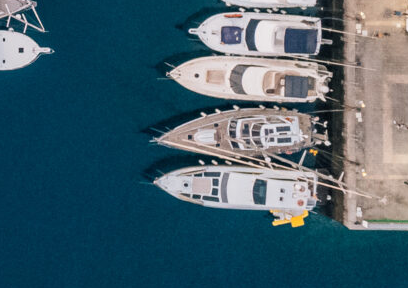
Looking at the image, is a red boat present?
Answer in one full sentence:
No, the frame has no red boat in it.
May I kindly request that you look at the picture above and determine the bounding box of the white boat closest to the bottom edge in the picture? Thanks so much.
[142,160,340,215]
